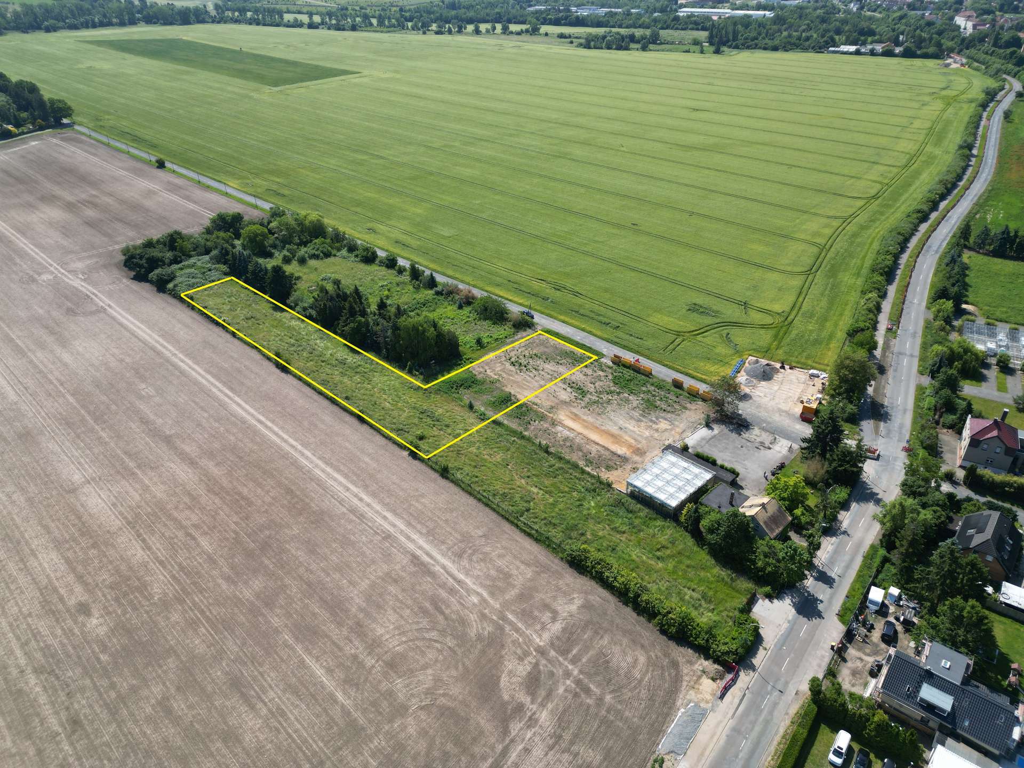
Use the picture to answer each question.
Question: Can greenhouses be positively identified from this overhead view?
Yes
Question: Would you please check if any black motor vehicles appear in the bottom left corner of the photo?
No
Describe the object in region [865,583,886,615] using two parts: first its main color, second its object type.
white camper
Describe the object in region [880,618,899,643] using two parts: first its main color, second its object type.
black car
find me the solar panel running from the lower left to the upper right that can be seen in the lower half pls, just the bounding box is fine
[964,515,993,546]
